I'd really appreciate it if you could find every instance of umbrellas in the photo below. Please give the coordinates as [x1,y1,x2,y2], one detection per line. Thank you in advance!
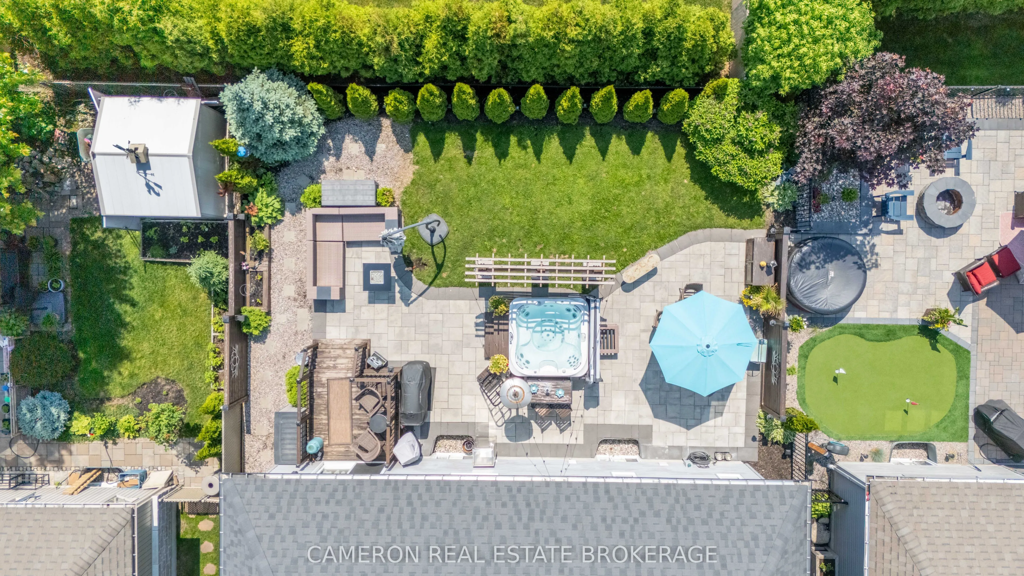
[649,290,757,397]
[378,214,448,259]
